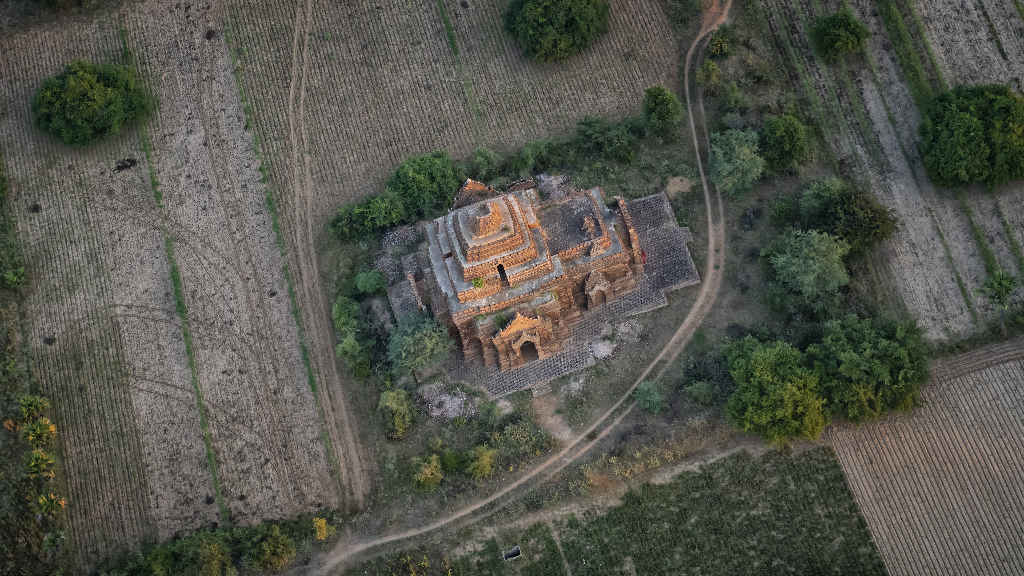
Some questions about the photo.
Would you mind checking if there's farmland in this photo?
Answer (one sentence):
Yes, there is farmland in the image.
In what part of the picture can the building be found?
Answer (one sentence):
The building is located in the center region of the scene.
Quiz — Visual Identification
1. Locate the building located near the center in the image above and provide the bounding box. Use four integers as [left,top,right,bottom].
[407,178,647,371]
